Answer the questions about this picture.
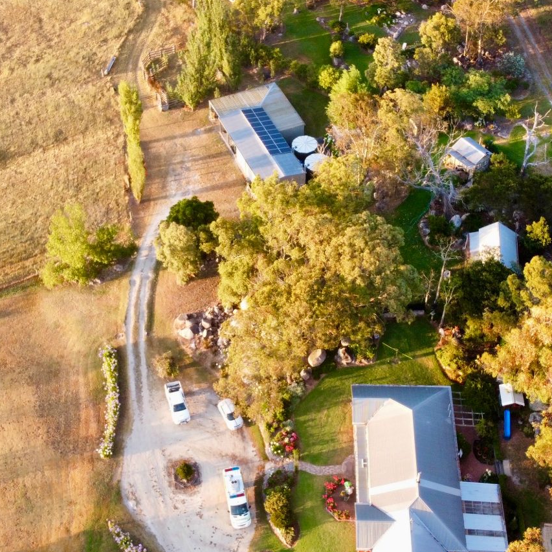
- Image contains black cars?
No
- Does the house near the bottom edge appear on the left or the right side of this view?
right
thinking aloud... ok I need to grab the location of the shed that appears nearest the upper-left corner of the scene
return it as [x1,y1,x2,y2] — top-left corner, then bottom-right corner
[203,82,300,193]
